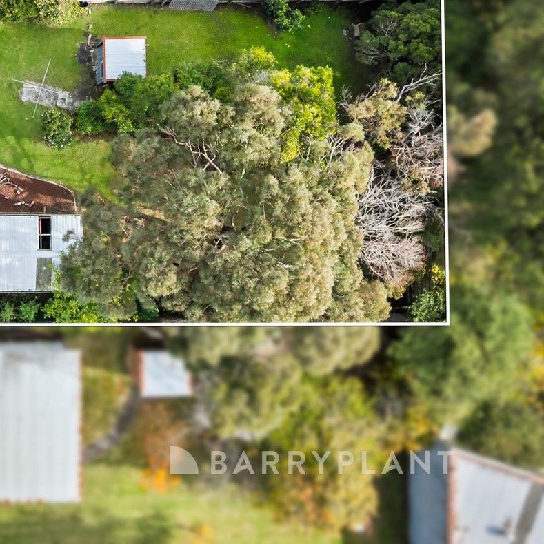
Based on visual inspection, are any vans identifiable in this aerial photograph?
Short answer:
No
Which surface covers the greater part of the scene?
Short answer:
trees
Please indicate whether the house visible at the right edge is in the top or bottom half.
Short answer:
bottom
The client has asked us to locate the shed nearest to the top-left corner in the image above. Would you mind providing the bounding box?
[97,36,149,85]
